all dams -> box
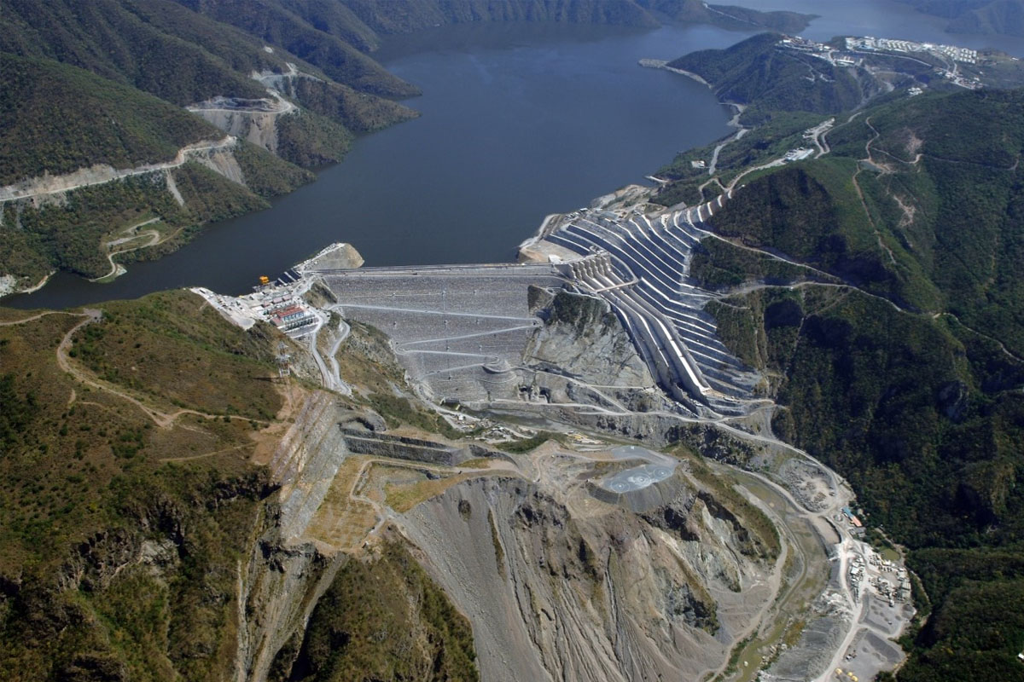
[312,264,567,412]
